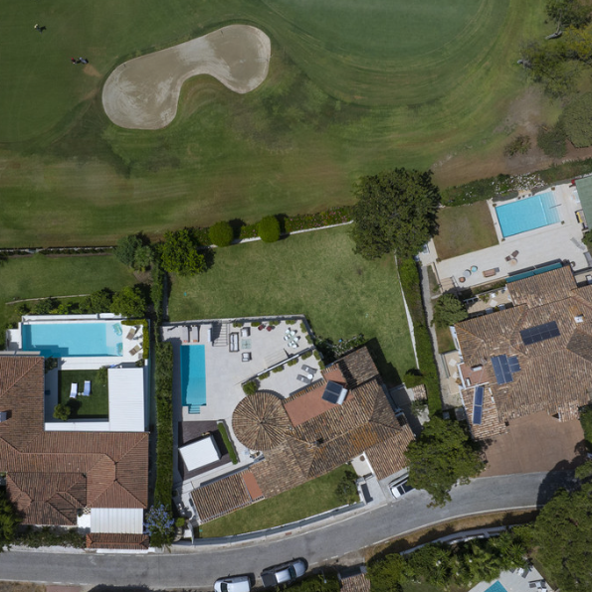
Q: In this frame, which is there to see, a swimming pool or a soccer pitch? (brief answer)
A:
swimming pool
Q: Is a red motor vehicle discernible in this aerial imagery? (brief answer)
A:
No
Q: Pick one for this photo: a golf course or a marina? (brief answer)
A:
golf course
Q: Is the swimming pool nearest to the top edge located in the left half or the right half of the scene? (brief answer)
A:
right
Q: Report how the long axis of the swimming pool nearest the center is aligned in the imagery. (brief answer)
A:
from top to bottom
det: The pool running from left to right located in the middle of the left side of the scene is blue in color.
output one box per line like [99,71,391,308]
[21,324,122,357]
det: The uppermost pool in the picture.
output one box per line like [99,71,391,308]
[495,191,561,237]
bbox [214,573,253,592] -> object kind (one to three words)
car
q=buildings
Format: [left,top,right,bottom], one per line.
[339,566,369,592]
[568,176,592,230]
[0,356,150,551]
[452,265,592,439]
[411,385,427,403]
[190,346,415,522]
